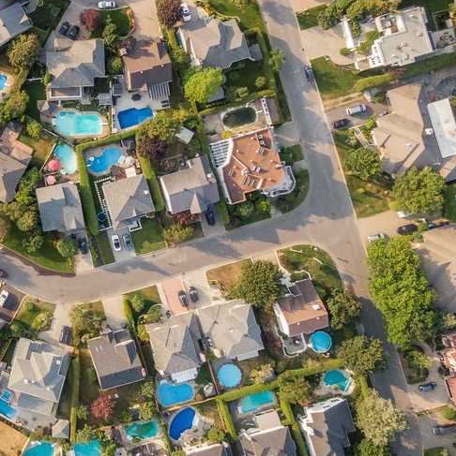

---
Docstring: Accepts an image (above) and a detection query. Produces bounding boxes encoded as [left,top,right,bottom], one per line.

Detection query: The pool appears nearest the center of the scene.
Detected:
[221,106,261,131]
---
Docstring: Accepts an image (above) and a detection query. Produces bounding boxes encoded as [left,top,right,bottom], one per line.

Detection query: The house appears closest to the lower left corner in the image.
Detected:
[7,336,74,420]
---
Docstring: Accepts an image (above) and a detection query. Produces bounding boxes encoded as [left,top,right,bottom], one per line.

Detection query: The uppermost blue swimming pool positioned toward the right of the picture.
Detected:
[308,331,333,353]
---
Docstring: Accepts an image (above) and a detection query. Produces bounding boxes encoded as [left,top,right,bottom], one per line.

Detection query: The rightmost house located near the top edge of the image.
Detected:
[349,6,433,70]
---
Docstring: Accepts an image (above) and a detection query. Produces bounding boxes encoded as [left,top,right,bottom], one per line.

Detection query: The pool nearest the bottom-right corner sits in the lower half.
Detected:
[321,369,352,397]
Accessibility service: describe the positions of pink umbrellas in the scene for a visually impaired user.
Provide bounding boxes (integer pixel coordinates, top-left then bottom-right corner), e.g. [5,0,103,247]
[47,158,60,171]
[46,174,56,185]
